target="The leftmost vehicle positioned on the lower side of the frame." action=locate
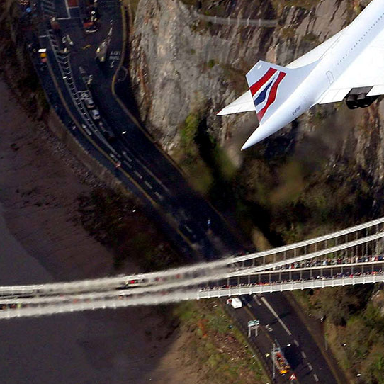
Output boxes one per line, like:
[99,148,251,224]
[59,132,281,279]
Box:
[227,295,245,309]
